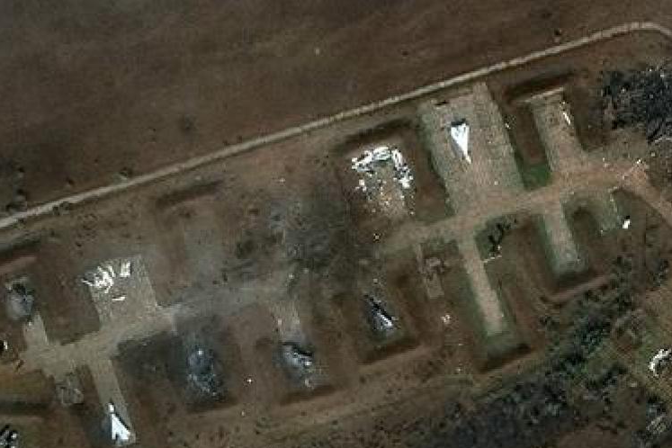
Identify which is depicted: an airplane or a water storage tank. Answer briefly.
airplane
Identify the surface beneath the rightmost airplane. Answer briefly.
apron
